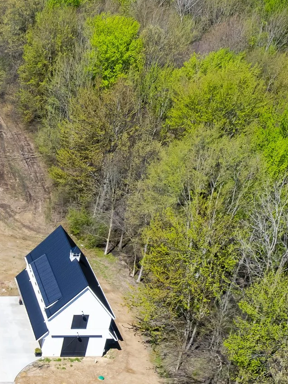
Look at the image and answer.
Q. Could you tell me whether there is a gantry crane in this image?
No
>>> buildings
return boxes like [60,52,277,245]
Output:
[12,224,118,356]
